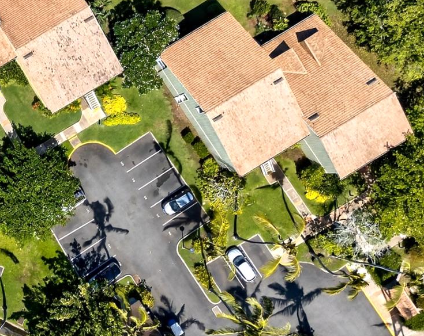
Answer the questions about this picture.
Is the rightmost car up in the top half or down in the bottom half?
bottom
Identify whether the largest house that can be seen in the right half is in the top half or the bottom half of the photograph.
top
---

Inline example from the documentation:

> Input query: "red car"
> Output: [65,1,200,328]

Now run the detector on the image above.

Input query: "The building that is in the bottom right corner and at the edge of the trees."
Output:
[375,283,420,320]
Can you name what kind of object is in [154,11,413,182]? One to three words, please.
house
